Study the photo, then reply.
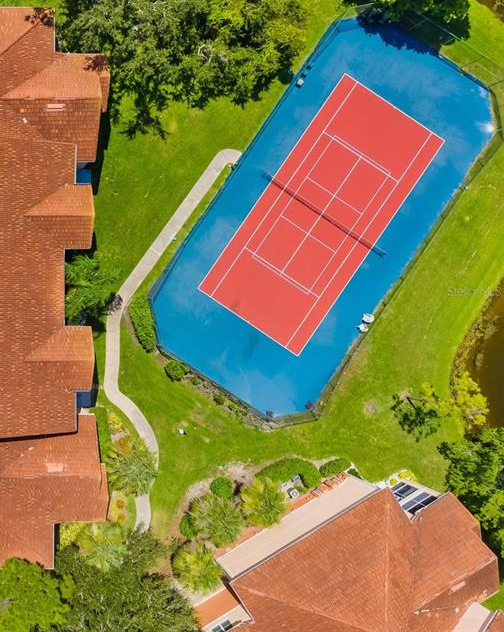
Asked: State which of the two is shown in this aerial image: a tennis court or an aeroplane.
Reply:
tennis court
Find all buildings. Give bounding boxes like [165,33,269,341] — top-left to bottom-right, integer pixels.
[192,472,504,632]
[0,6,106,568]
